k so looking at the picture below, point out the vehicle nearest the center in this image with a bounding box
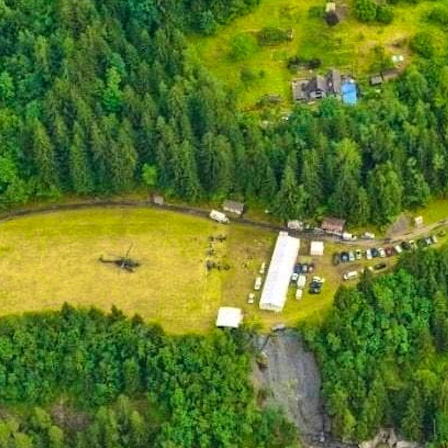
[208,208,229,224]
